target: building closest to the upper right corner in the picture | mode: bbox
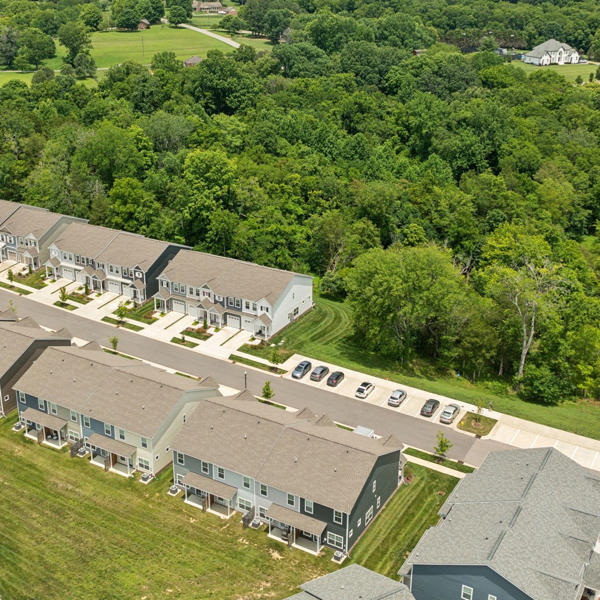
[526,39,586,66]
